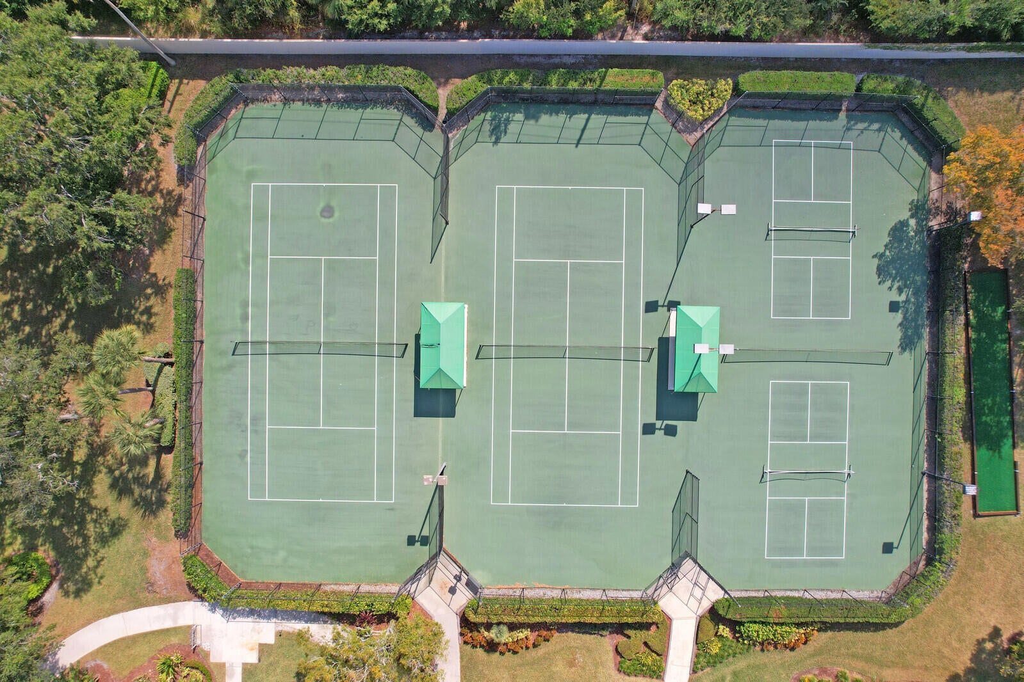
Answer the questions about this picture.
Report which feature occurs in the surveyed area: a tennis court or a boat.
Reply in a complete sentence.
It is a tennis court that can be seen here.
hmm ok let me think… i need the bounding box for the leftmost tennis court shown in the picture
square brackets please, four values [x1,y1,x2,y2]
[201,102,449,585]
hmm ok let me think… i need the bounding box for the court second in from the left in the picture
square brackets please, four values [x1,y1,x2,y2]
[443,103,692,590]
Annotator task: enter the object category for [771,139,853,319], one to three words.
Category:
sports court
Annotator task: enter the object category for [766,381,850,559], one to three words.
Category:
sports court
